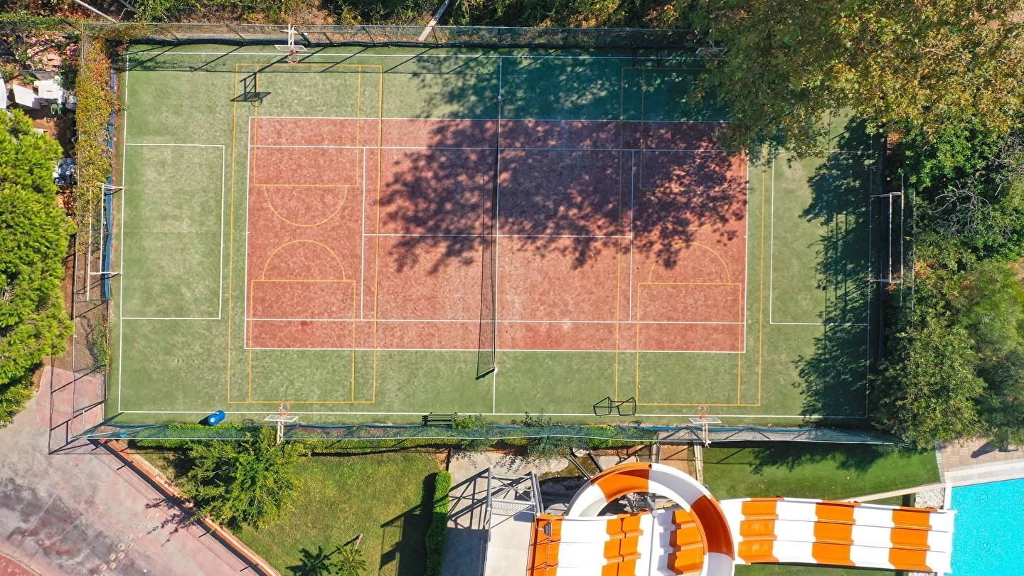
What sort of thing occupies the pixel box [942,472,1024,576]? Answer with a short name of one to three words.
swimming pool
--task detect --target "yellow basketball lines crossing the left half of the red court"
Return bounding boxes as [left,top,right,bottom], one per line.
[228,63,382,404]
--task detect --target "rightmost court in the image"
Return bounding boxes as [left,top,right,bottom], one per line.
[615,67,766,407]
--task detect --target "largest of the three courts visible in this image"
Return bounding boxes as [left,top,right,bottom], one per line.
[244,116,750,353]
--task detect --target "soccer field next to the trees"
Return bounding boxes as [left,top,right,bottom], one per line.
[106,45,879,427]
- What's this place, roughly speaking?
sports ground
